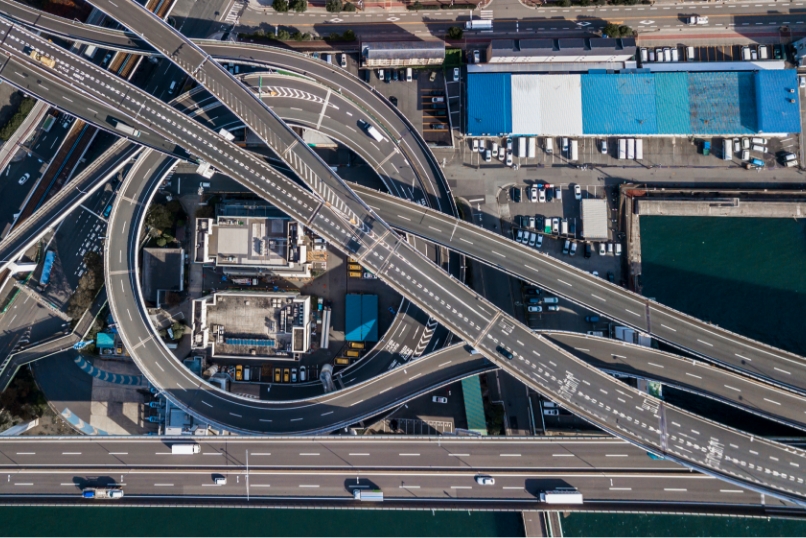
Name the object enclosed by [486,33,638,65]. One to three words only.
building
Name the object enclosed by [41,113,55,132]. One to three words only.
vehicle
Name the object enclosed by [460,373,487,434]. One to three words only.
shed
